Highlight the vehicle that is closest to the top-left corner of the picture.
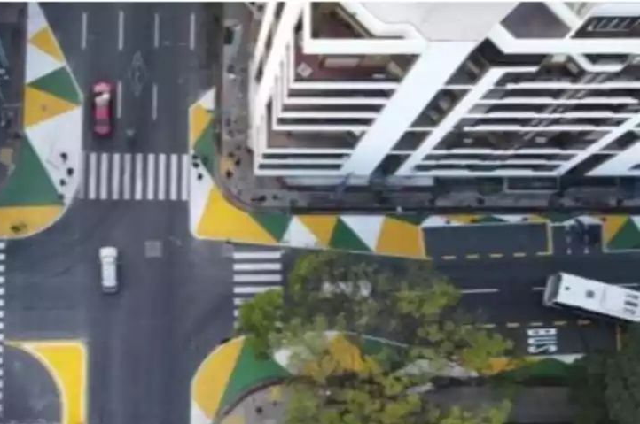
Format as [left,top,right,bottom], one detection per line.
[89,84,114,136]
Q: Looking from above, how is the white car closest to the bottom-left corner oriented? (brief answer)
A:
vertically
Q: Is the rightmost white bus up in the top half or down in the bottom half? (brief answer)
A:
bottom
